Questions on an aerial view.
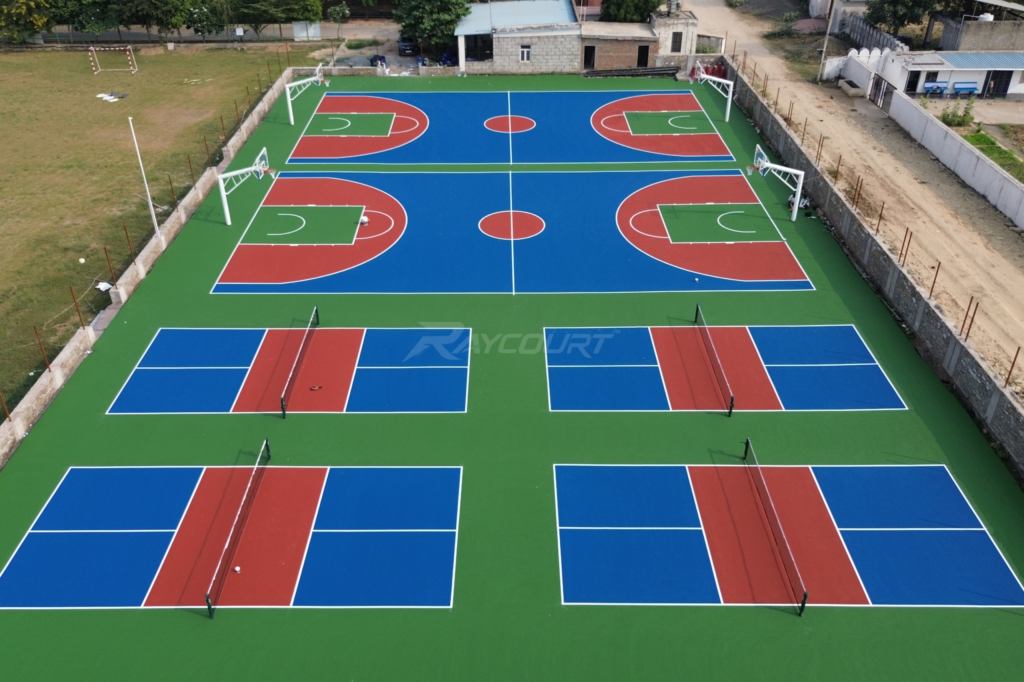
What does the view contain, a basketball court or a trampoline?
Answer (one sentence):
Visible in the photo is a basketball court.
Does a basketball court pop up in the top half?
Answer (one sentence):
Yes, in the top half there is a basketball court.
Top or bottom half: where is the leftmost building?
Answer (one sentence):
You can find the leftmost building in the top half.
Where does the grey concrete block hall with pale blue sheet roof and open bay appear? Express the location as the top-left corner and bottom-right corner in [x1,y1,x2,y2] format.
[454,0,582,73]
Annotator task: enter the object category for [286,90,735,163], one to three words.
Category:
basketball court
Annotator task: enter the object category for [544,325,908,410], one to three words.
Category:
sports court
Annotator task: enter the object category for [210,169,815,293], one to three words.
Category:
basketball court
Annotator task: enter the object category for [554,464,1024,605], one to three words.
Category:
sports court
